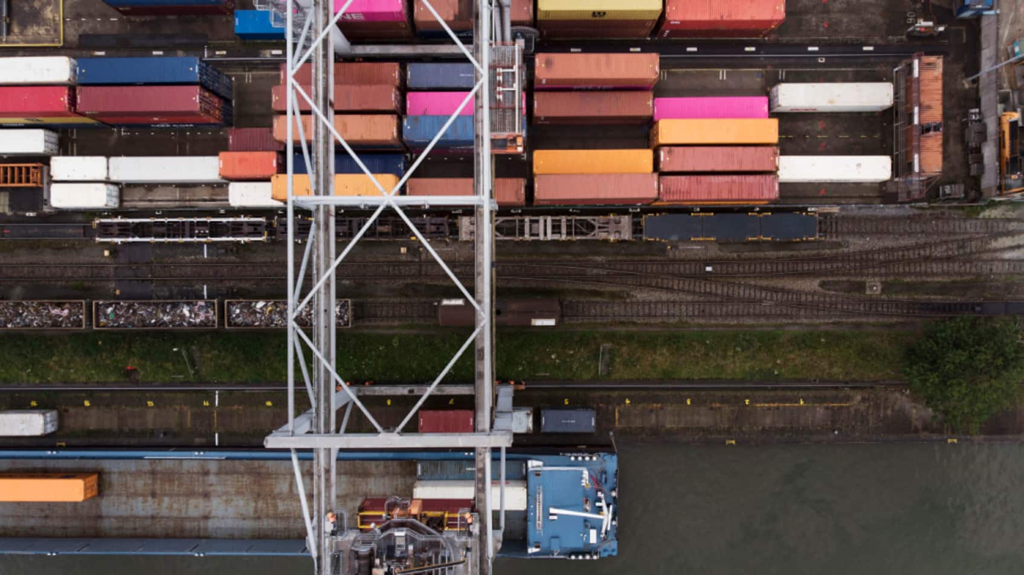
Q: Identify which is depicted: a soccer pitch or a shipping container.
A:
shipping container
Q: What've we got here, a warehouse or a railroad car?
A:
railroad car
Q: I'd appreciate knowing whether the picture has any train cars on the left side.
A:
Yes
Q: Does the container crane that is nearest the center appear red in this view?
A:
No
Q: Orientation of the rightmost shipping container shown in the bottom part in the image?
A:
from left to right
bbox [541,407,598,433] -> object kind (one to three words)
shipping container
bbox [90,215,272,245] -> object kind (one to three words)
rail car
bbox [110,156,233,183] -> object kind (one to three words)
shipping container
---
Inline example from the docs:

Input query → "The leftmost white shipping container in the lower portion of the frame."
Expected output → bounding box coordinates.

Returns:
[0,409,60,436]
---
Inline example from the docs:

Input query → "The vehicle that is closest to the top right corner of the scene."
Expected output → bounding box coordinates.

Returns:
[904,0,944,39]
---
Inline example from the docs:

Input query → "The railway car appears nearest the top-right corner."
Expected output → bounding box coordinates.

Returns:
[639,213,823,240]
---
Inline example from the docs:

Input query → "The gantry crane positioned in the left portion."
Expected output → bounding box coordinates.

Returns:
[260,0,539,575]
